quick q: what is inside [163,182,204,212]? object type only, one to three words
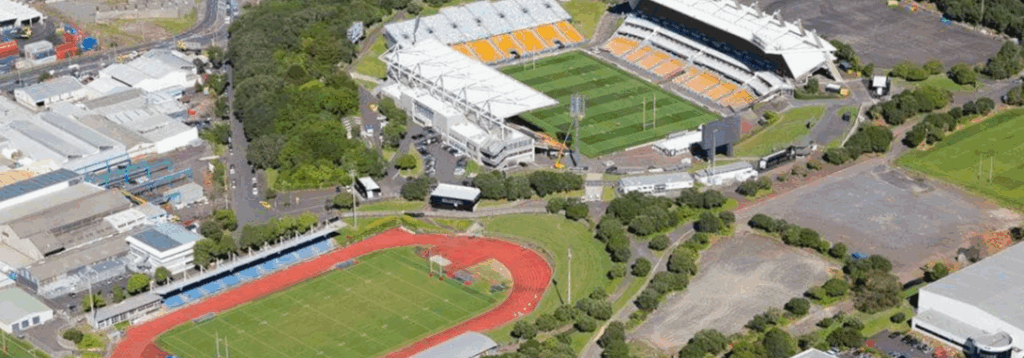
shed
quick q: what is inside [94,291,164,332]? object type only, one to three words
building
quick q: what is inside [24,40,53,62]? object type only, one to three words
building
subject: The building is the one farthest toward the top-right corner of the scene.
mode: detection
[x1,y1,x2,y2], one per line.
[866,76,897,98]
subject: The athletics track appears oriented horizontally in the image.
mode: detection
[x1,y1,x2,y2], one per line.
[110,227,552,358]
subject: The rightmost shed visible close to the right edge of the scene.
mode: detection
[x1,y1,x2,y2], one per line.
[913,240,1024,358]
